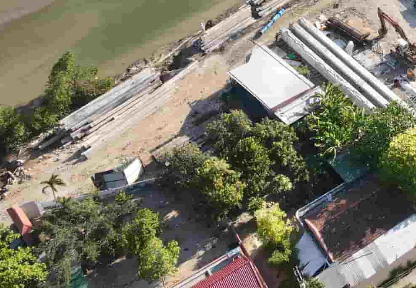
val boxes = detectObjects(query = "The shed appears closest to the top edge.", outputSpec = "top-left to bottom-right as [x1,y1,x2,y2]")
[228,41,321,135]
